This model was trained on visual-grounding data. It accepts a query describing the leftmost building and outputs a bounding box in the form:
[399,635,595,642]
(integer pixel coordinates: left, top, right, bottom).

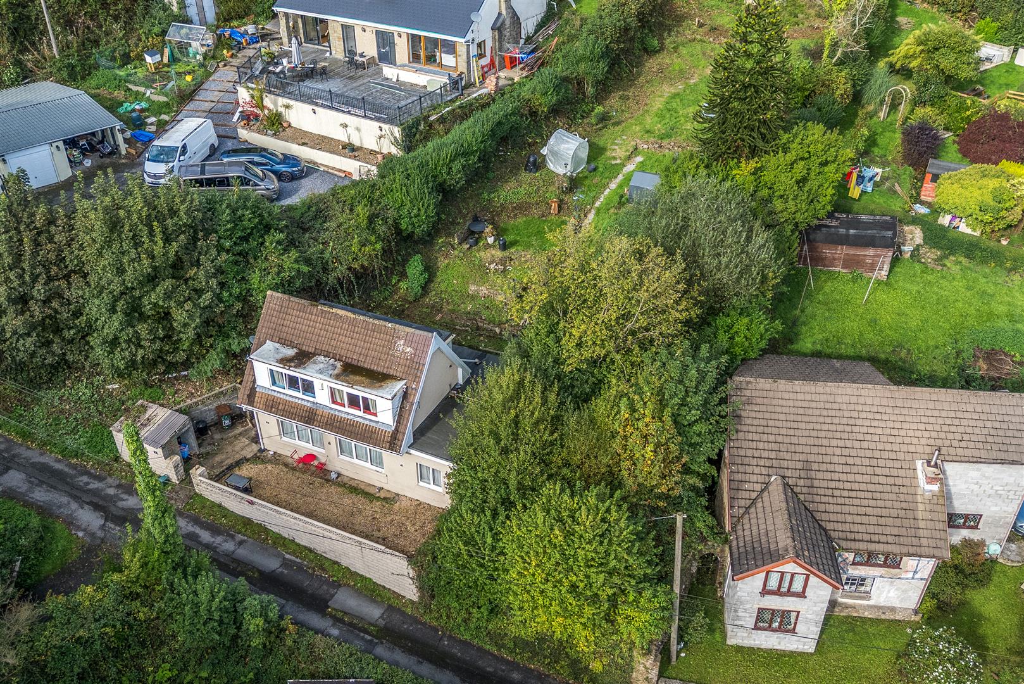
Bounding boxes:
[0,81,125,194]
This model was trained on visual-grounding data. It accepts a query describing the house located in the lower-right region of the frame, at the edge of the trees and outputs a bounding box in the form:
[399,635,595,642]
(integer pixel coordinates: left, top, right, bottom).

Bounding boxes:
[710,354,1024,652]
